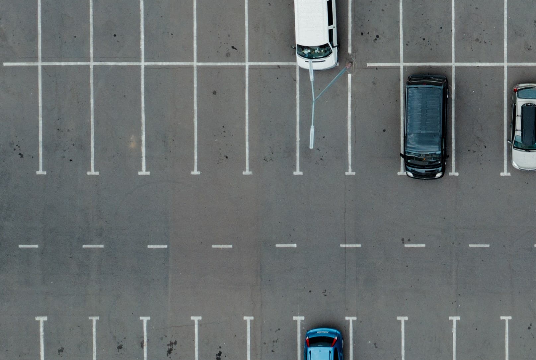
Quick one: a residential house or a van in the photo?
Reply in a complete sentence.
Of the two, only a van appears.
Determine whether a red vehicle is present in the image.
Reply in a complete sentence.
No, I find no red vehicle anywhere in the image.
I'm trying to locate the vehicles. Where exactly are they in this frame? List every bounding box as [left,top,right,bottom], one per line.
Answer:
[303,326,345,360]
[289,0,340,70]
[505,83,536,171]
[399,73,450,181]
